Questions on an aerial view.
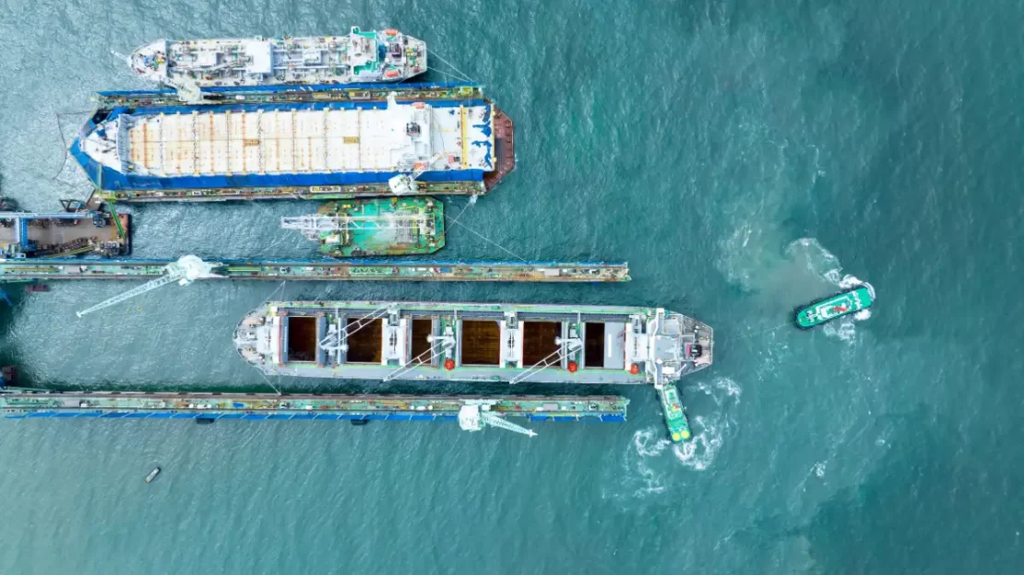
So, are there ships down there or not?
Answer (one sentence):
Yes, there's a ship here.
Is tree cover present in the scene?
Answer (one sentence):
No, tree cover can't be seen anywhere here.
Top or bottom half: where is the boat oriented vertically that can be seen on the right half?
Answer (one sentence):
You can find the boat oriented vertically that can be seen on the right half in the bottom half.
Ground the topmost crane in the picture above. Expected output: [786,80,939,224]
[156,69,226,108]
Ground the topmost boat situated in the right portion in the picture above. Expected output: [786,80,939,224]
[798,286,876,327]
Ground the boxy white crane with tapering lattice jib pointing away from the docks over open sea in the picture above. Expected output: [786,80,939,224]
[459,394,536,439]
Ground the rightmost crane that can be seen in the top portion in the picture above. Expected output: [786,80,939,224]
[390,150,444,199]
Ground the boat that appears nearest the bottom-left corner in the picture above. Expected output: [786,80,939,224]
[142,467,160,485]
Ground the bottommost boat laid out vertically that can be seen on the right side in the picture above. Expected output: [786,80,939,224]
[660,381,692,445]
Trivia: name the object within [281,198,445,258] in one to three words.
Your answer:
ship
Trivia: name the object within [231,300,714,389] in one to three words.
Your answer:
ship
